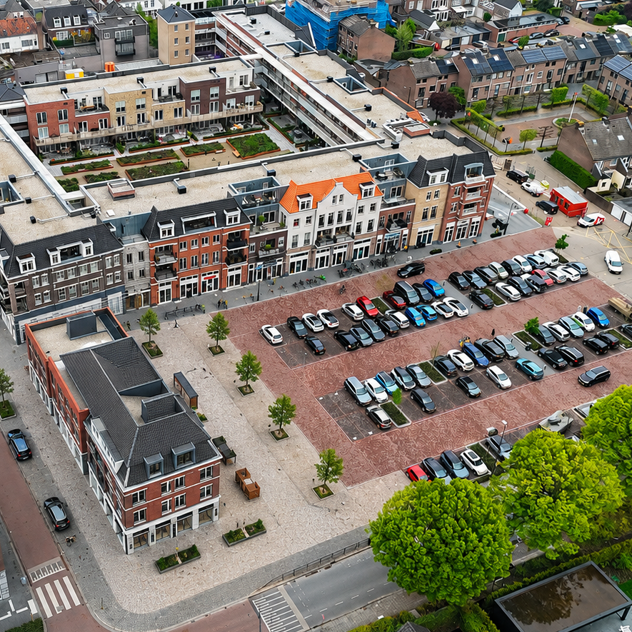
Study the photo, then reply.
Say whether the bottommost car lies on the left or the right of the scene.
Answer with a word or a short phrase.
left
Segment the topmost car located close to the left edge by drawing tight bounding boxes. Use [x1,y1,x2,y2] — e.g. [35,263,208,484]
[8,433,33,461]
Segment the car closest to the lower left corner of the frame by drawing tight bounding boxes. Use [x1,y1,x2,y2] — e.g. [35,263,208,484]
[43,498,73,534]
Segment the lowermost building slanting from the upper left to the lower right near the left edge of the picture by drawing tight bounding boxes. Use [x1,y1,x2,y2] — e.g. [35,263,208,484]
[24,302,225,554]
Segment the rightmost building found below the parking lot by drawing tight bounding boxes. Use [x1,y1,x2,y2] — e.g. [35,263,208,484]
[497,561,632,632]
